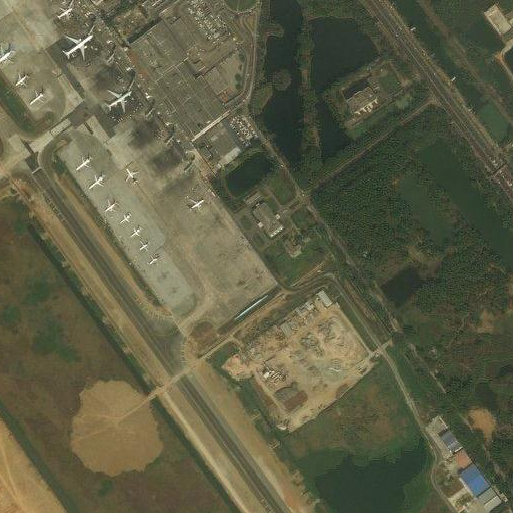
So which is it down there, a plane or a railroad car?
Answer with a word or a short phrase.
plane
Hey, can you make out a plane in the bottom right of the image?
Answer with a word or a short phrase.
No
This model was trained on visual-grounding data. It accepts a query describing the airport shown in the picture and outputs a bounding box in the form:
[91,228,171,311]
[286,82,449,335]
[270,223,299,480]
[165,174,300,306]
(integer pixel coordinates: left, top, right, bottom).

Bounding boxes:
[0,0,294,513]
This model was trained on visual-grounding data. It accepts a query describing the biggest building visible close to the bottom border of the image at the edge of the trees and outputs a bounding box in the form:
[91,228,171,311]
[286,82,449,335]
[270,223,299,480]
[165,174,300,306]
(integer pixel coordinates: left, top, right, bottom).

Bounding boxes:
[462,464,490,497]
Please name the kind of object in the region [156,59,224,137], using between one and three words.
building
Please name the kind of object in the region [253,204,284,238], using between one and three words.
building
